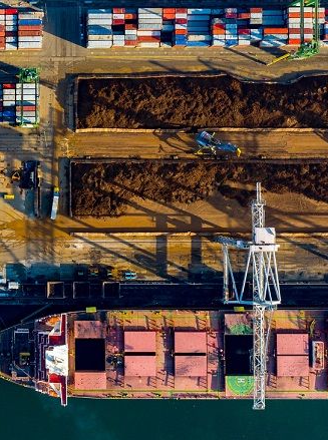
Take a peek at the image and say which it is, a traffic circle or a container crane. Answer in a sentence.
The one in the frame is a container crane.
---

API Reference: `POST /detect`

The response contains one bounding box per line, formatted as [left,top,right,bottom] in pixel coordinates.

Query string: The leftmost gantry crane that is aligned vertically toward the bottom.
[213,182,284,411]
